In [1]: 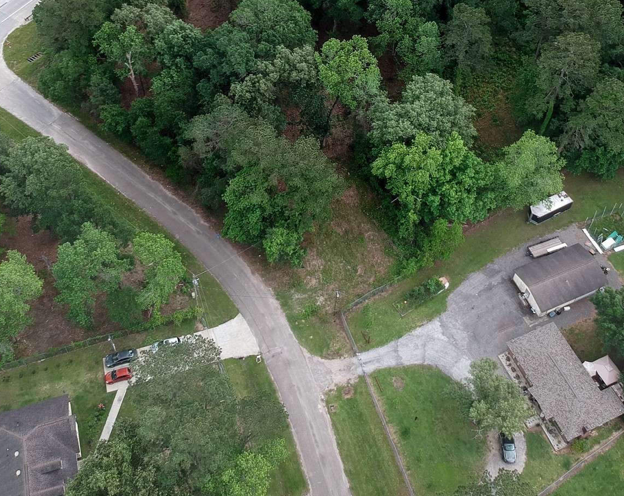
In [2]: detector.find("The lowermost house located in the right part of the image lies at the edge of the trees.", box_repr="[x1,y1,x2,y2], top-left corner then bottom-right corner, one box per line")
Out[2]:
[506,322,624,447]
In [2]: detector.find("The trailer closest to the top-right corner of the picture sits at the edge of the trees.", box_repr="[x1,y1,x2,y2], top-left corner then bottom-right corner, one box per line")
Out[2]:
[522,191,573,222]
